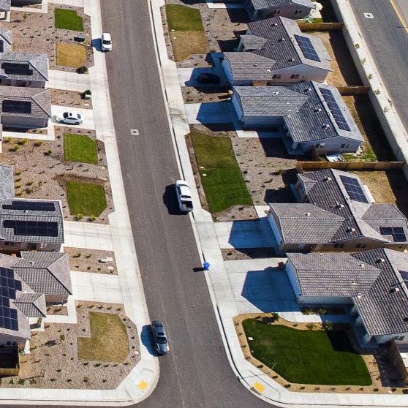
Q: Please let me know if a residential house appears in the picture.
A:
Yes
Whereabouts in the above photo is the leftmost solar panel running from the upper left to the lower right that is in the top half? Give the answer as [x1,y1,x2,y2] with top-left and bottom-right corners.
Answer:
[295,34,320,62]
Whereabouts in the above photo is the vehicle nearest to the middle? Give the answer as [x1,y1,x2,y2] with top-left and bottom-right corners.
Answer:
[174,179,195,209]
